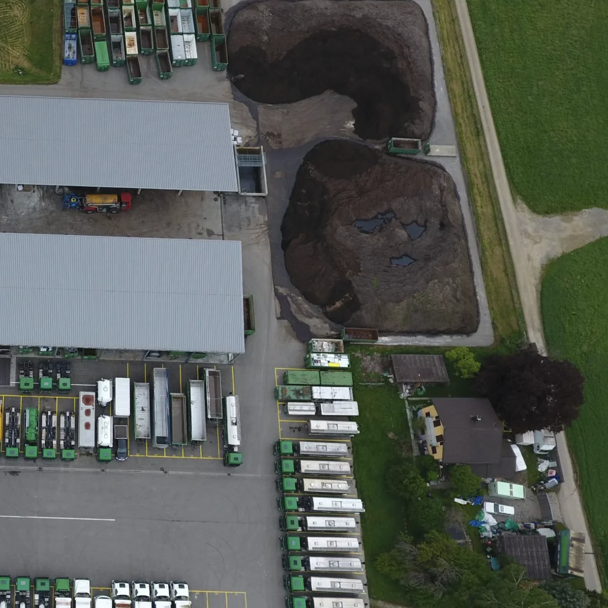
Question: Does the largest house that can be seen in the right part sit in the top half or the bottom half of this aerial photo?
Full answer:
It is in the bottom half that the largest house that can be seen in the right part appears.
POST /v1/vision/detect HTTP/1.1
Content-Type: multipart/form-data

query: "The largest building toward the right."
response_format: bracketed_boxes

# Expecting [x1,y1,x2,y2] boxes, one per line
[417,398,516,479]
